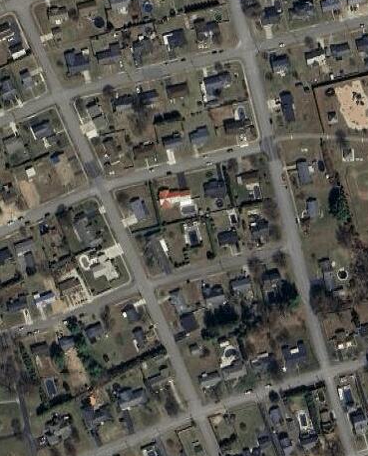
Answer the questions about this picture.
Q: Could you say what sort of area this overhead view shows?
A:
residential area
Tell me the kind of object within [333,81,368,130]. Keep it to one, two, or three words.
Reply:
playground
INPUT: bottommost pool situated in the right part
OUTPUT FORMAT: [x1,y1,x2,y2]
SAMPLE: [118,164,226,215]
[298,412,311,430]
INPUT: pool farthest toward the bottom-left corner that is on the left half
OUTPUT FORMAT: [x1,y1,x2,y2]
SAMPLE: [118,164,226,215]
[44,377,57,397]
